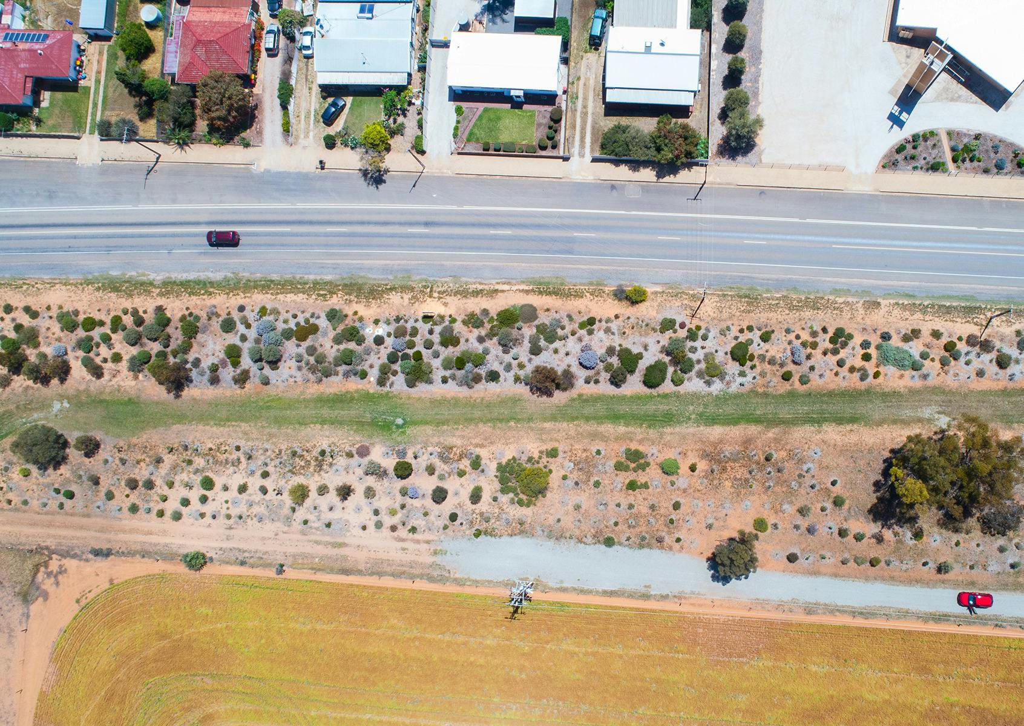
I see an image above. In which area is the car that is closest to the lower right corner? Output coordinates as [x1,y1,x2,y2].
[957,592,992,614]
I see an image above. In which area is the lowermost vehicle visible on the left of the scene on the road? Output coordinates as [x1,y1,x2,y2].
[208,231,241,247]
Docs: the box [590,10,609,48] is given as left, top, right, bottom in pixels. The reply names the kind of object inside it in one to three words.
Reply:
car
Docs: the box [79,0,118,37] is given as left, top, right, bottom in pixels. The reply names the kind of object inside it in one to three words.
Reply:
shed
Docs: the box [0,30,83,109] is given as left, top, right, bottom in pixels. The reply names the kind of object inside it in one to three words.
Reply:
house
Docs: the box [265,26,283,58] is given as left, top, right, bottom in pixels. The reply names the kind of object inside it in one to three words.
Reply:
car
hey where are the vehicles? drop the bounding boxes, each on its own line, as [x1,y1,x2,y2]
[265,26,283,58]
[957,592,992,614]
[323,99,348,128]
[265,0,283,15]
[300,28,315,60]
[590,10,609,48]
[208,231,241,247]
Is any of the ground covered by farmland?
Yes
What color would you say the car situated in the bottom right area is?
red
